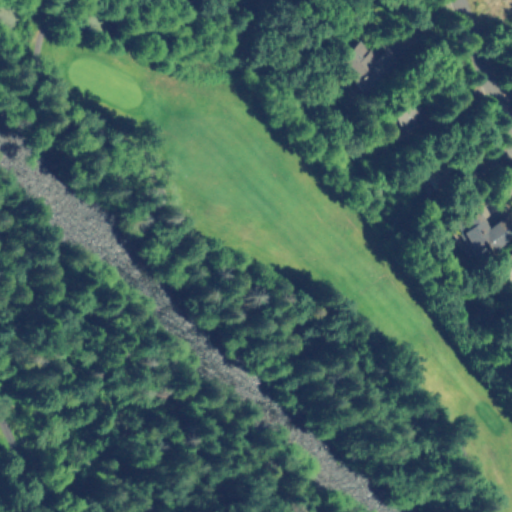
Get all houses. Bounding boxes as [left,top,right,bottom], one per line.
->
[466,222,511,249]
[350,42,377,77]
[398,106,420,127]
